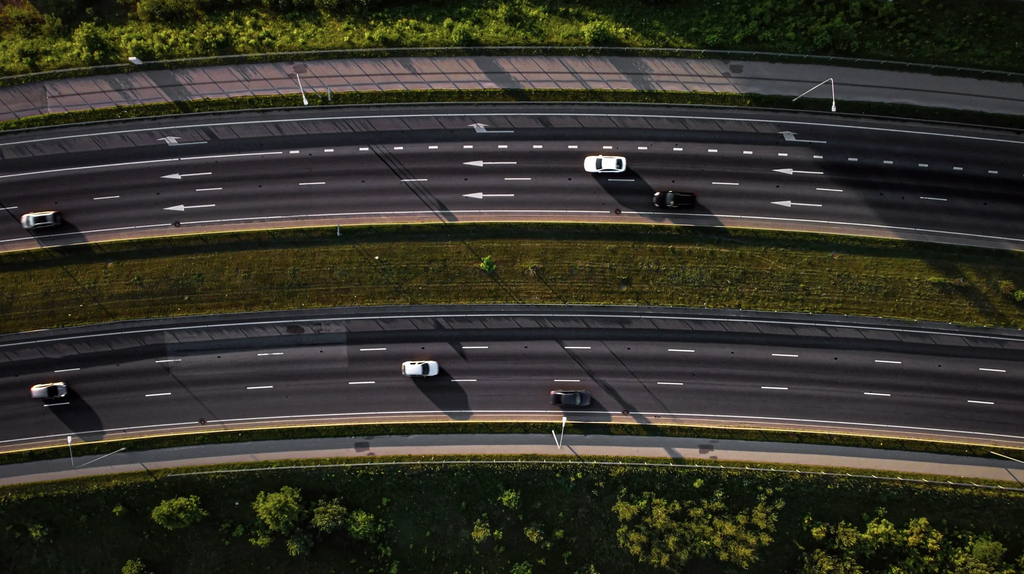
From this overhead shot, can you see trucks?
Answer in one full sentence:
No, there is no truck in the image.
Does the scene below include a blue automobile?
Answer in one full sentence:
No, no blue automobile can be seen from above.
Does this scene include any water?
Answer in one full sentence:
No, no water is visible.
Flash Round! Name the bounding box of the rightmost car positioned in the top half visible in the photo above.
[584,154,626,173]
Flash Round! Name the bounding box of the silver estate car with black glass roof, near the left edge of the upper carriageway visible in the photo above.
[23,211,63,230]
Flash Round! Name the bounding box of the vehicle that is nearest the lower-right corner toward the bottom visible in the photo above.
[550,389,591,408]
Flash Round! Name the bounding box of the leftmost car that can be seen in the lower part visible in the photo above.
[29,381,69,400]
